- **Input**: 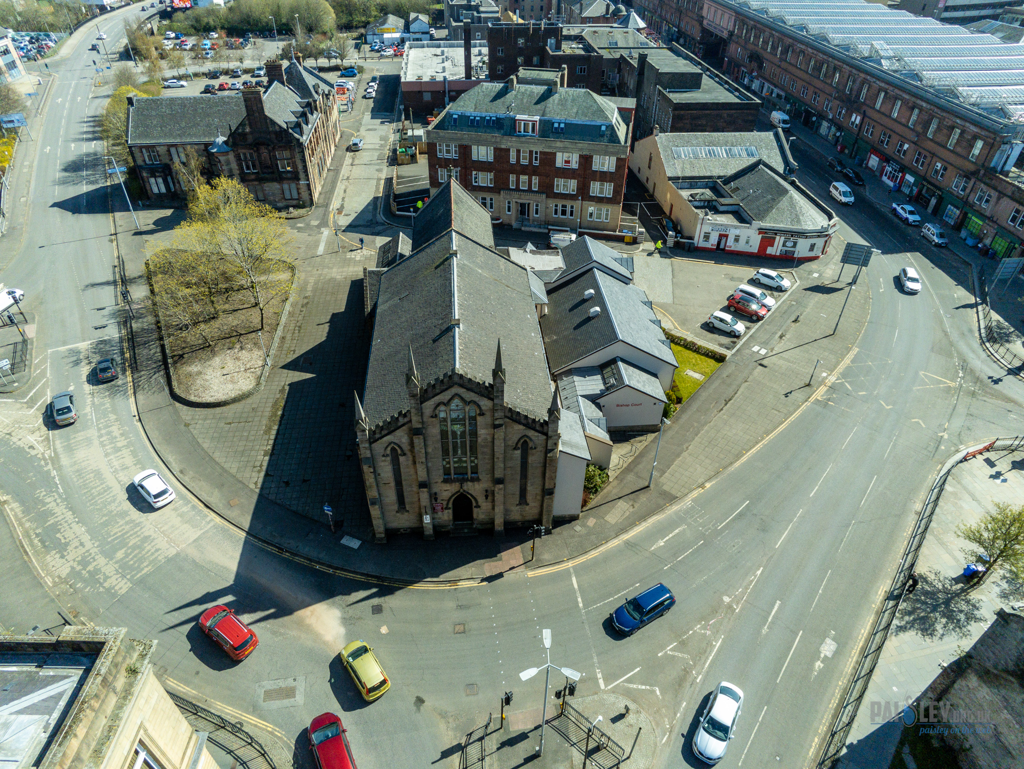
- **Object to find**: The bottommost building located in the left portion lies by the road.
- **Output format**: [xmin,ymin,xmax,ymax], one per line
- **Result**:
[0,626,232,769]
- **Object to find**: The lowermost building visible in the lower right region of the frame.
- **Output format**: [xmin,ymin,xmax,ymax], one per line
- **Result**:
[893,592,1024,769]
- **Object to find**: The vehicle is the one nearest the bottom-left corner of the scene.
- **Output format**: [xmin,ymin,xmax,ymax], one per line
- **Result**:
[196,602,261,661]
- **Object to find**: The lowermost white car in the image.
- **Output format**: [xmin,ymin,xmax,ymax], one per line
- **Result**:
[693,673,750,761]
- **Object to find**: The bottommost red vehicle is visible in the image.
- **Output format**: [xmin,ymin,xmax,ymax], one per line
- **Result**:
[302,707,358,769]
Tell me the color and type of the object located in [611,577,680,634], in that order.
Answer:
blue car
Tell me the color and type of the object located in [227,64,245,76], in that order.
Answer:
gray vehicle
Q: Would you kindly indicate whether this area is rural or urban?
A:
urban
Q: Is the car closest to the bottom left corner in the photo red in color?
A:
Yes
